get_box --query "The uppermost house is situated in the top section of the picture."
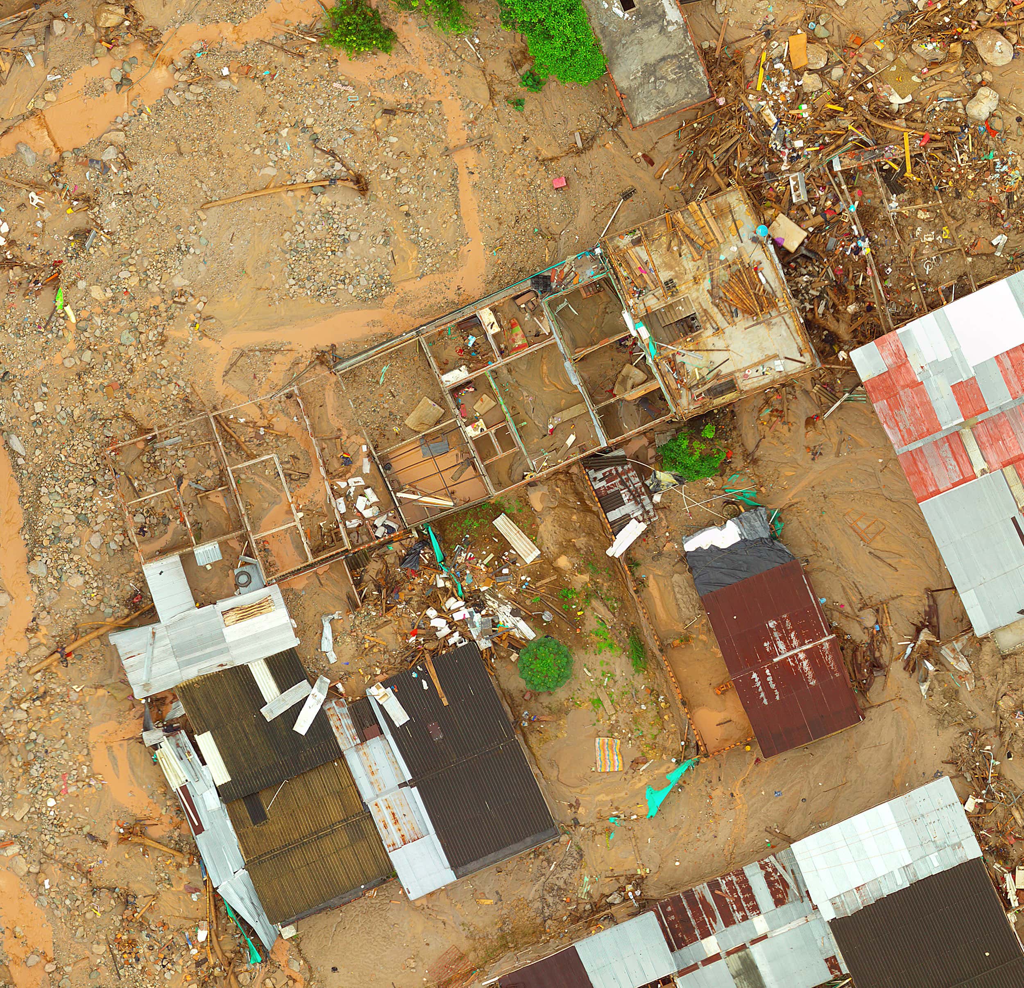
[580,0,717,137]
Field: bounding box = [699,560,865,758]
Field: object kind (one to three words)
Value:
house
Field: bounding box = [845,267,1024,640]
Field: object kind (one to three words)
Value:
warehouse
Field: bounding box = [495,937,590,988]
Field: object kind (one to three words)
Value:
house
